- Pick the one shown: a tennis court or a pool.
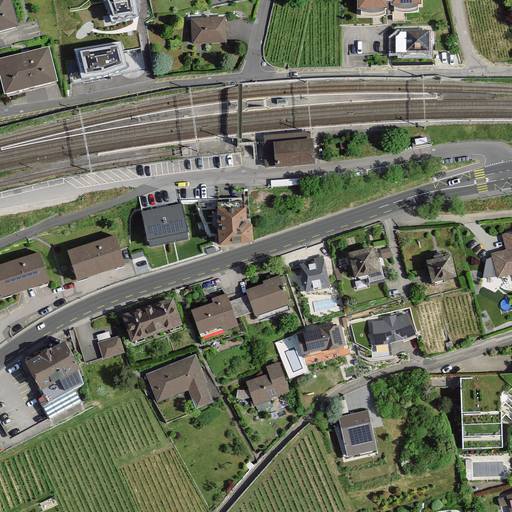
pool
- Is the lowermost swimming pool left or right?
right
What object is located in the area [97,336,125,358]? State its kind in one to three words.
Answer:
building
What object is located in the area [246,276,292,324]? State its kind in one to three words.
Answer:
house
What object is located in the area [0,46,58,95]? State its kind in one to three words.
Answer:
house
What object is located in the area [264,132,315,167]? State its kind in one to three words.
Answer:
building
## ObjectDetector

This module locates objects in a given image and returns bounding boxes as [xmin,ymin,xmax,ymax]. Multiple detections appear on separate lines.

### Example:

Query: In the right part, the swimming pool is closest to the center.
[312,297,338,312]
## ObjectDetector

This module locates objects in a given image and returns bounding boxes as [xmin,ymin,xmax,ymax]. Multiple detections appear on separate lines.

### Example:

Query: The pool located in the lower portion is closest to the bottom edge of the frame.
[466,456,511,480]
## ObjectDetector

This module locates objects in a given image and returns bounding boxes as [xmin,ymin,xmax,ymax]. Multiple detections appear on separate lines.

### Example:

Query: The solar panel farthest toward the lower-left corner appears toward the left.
[60,372,82,390]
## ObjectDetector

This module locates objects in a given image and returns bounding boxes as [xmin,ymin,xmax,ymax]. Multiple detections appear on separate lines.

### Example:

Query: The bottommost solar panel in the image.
[348,424,372,445]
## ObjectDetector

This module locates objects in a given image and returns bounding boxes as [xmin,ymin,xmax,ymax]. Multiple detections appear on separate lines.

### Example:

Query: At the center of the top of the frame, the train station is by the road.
[2,92,512,154]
